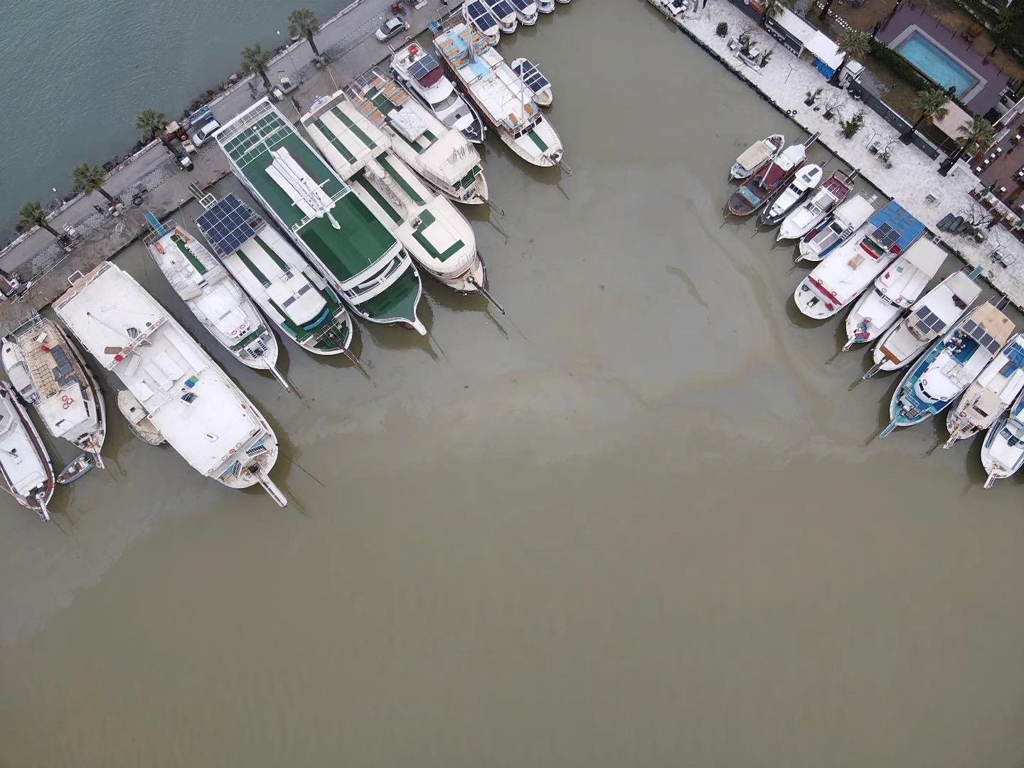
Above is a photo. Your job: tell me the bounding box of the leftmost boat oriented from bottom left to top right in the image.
[56,452,102,485]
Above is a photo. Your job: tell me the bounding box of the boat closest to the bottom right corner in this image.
[979,393,1024,489]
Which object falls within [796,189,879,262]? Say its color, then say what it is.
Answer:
white boat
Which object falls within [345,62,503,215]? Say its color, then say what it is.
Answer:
white boat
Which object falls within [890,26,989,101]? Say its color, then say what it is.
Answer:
blue swimming pool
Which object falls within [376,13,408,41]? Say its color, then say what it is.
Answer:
gray car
